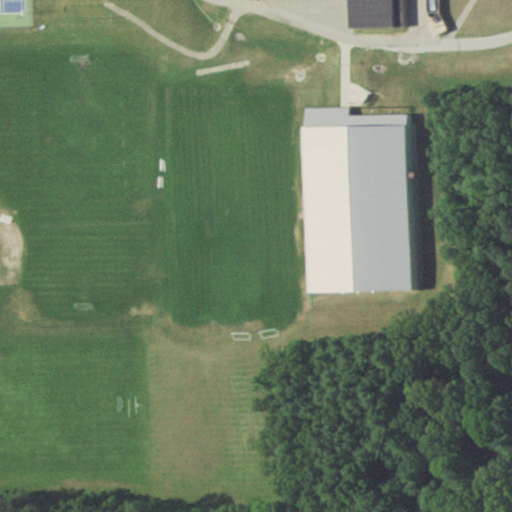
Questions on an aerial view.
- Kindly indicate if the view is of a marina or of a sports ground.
sports ground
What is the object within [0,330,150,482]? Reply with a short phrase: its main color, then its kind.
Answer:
green sports field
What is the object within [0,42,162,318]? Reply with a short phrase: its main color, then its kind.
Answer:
green sports field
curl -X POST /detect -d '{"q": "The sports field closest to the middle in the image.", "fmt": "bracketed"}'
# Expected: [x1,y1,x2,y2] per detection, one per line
[163,82,300,328]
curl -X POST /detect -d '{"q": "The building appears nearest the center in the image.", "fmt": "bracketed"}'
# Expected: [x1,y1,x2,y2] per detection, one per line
[302,106,419,294]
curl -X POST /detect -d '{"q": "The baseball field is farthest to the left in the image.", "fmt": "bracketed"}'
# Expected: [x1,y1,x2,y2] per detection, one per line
[0,220,24,285]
